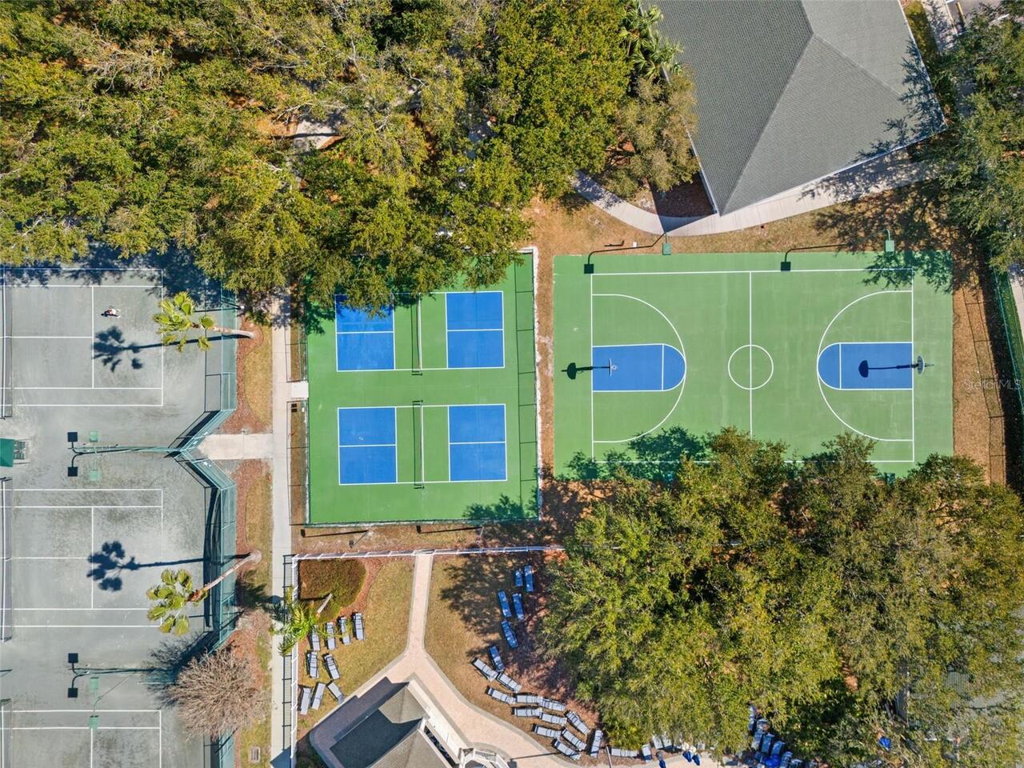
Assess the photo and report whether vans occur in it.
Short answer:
No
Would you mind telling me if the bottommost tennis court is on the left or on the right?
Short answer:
left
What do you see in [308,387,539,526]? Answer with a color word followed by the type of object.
green sports court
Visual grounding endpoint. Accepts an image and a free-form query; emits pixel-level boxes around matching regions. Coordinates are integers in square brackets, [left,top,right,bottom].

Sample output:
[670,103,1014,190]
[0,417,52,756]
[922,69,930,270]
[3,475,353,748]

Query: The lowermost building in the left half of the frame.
[328,677,485,768]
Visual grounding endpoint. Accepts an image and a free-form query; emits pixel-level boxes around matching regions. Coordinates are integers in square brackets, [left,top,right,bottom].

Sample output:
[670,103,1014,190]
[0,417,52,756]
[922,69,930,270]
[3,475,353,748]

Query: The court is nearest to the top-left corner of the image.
[0,204,237,449]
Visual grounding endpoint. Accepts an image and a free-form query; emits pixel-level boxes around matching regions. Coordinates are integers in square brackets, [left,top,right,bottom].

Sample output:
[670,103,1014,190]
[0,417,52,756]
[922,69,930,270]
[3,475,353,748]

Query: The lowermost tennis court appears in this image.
[0,670,236,768]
